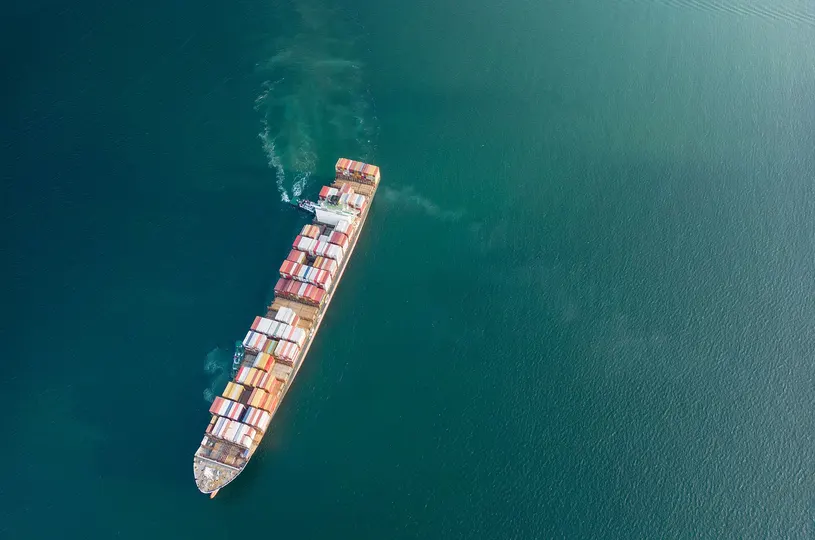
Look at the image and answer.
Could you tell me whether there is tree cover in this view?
No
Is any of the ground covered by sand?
No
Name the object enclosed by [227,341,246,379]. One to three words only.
boat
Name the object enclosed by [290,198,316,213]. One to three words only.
boat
